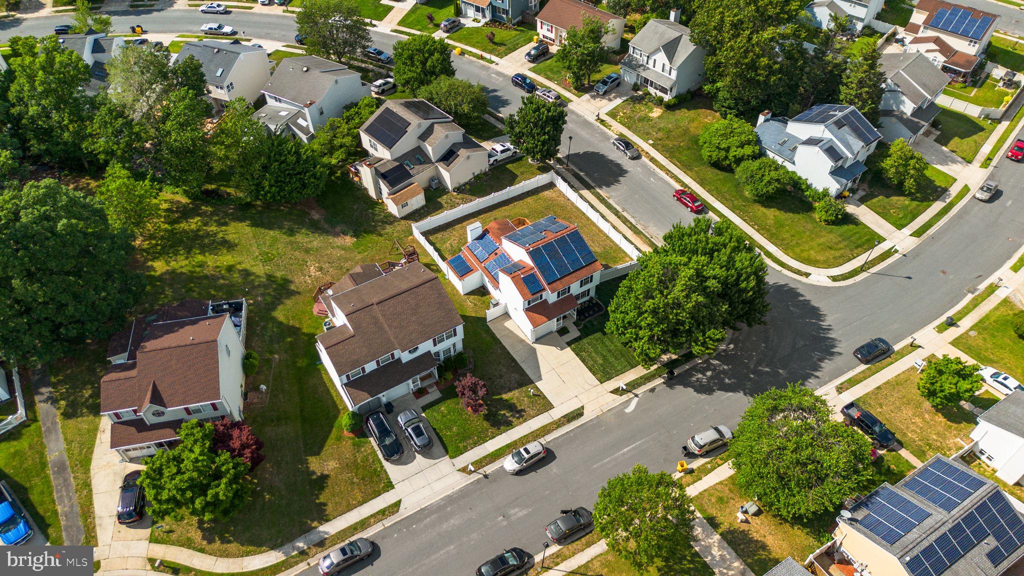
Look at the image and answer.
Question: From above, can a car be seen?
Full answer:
Yes, a car can be made out from above.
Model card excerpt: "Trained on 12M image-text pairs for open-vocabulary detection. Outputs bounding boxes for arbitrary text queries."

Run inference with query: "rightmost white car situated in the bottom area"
[977,366,1024,401]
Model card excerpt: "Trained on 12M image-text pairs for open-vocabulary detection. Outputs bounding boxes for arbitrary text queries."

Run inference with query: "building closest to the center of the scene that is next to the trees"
[444,216,604,343]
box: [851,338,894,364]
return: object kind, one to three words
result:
car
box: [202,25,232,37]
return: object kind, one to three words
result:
vehicle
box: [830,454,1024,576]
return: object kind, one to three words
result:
house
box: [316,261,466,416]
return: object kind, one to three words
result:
house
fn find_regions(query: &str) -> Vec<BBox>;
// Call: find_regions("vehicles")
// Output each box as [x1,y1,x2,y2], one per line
[248,41,266,55]
[510,71,537,92]
[542,506,597,546]
[972,179,1002,202]
[438,17,463,33]
[526,41,549,61]
[685,424,735,456]
[317,536,377,576]
[115,469,146,524]
[275,0,288,5]
[535,86,565,103]
[202,25,232,37]
[259,0,271,5]
[502,438,549,475]
[977,366,1024,401]
[365,412,400,459]
[47,23,81,35]
[473,544,532,576]
[199,4,227,16]
[370,77,398,94]
[851,338,894,364]
[610,138,642,159]
[292,36,318,50]
[489,143,522,165]
[672,189,707,213]
[1007,133,1024,157]
[836,396,902,451]
[366,48,392,63]
[399,409,435,453]
[596,71,621,93]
